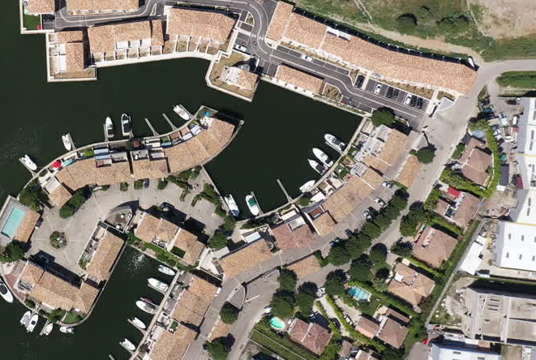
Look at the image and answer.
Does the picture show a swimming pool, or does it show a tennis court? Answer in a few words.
swimming pool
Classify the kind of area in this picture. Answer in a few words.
residential area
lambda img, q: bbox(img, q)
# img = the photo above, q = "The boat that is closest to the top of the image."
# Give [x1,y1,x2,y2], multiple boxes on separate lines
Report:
[172,103,188,119]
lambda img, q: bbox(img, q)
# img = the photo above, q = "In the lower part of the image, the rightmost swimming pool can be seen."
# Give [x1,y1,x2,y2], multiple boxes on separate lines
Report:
[346,287,373,303]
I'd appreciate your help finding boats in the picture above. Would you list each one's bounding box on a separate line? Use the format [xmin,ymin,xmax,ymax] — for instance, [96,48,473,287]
[136,301,158,315]
[60,327,75,333]
[0,277,11,302]
[226,193,238,216]
[22,154,34,169]
[148,279,170,292]
[106,117,113,140]
[323,134,344,152]
[123,114,131,138]
[122,338,135,350]
[299,181,314,192]
[172,103,188,119]
[62,133,71,150]
[245,194,258,215]
[26,314,37,333]
[44,323,53,337]
[157,265,174,274]
[20,310,30,327]
[308,159,325,174]
[313,148,333,166]
[133,315,146,328]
